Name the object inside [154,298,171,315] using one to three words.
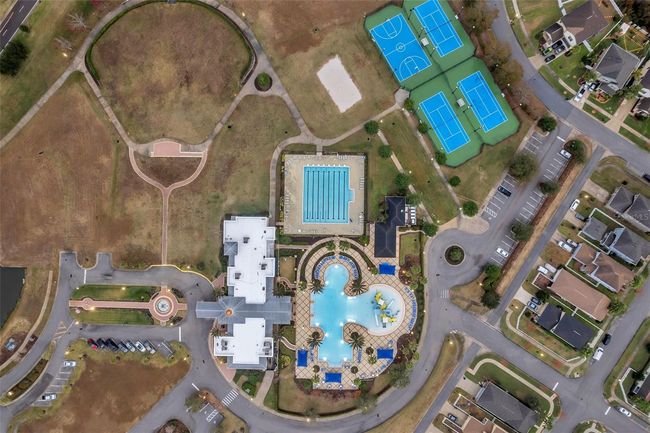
fountain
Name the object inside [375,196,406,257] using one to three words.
building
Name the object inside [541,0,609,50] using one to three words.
house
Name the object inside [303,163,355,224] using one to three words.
swimming pool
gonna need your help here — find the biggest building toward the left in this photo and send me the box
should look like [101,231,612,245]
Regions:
[195,216,291,370]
